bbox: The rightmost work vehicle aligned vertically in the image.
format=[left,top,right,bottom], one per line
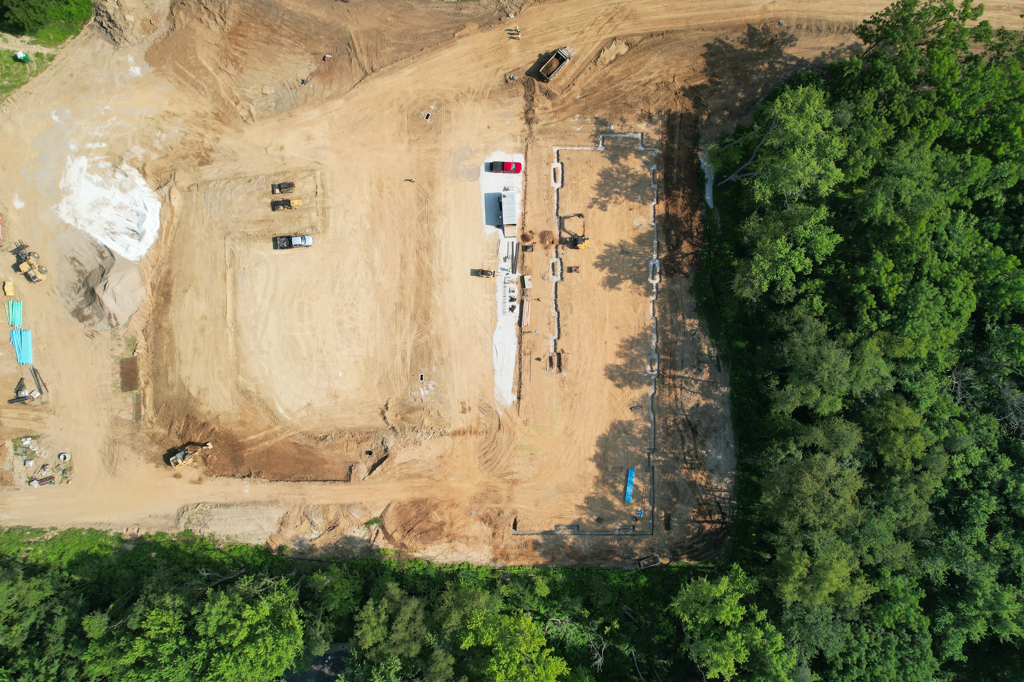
[573,211,591,252]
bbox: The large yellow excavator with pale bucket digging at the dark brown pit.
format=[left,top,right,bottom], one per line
[166,441,214,473]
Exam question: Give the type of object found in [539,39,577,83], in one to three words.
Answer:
truck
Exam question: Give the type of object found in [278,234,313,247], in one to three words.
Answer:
vehicle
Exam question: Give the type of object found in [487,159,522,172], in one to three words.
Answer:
vehicle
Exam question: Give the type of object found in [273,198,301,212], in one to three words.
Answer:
work vehicle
